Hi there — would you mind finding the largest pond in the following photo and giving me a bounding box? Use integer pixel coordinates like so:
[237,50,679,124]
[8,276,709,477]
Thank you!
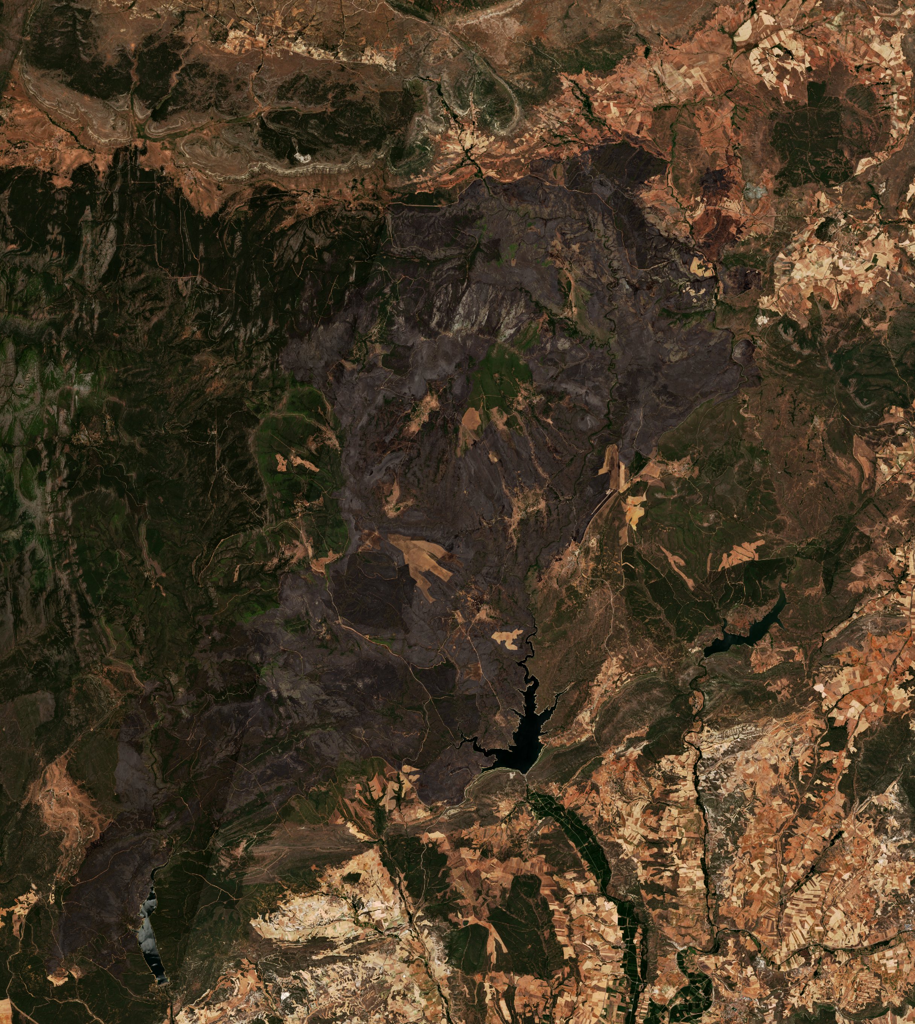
[447,608,571,774]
